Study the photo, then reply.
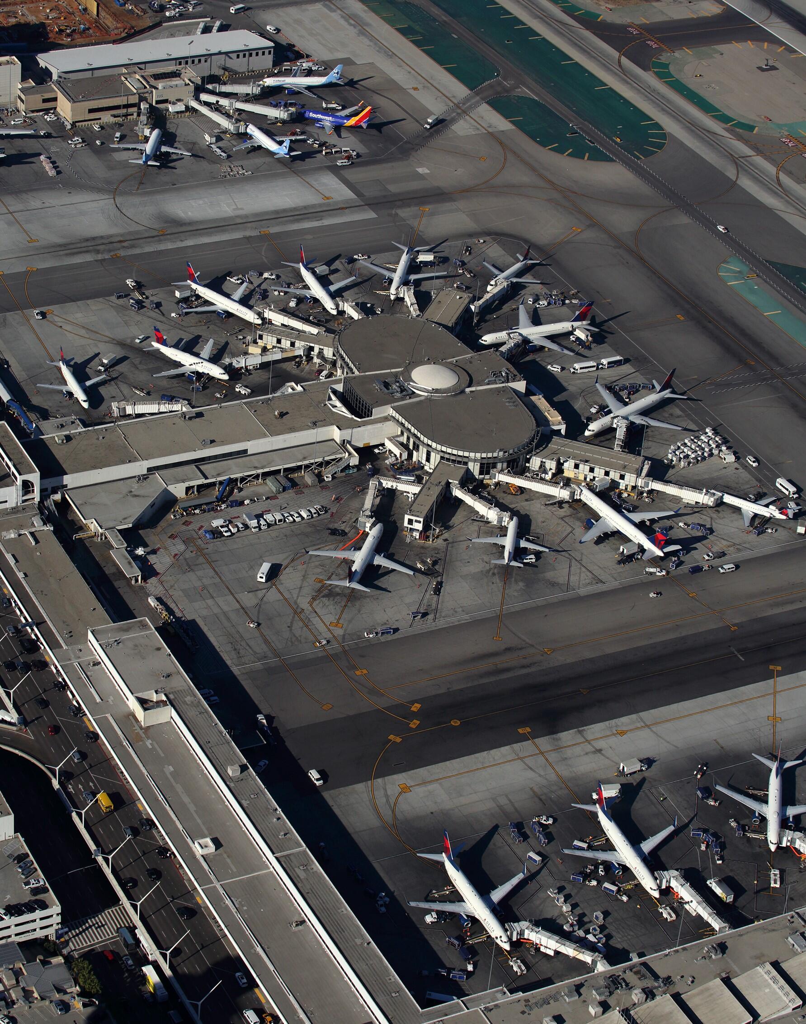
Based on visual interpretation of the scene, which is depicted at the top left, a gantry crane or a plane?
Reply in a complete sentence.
Looking at the top left, you will find a plane.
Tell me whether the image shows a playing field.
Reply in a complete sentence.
No, there appears to be no playing field in this shot.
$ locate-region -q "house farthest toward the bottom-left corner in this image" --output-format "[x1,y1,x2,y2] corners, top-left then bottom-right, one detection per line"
[16,951,84,1013]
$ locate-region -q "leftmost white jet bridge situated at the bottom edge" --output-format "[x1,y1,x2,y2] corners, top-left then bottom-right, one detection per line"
[511,925,605,973]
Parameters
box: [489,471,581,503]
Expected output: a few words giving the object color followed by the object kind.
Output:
white jet bridge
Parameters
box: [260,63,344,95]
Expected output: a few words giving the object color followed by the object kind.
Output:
white airplane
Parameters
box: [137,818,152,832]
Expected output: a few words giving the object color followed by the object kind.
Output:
black car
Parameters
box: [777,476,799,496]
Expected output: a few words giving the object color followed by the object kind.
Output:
white vehicle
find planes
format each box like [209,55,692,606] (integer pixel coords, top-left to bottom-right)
[309,524,419,588]
[298,104,373,134]
[583,371,687,440]
[562,785,680,901]
[477,299,598,353]
[701,488,798,524]
[714,742,806,854]
[470,516,553,566]
[109,129,192,163]
[358,235,449,302]
[33,350,108,411]
[260,63,344,95]
[141,327,230,384]
[232,122,308,156]
[482,248,543,293]
[579,488,681,559]
[408,833,528,953]
[269,248,358,317]
[175,265,262,326]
